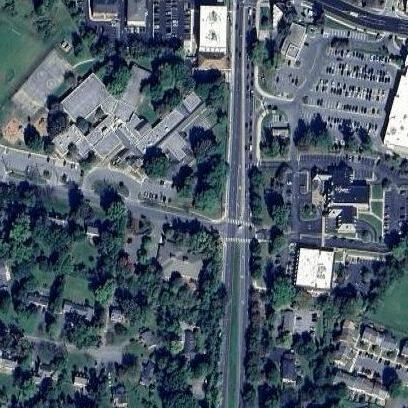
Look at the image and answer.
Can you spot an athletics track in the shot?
No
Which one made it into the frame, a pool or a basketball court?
basketball court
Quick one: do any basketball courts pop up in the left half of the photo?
Yes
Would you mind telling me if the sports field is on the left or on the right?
left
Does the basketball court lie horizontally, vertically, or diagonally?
diagonally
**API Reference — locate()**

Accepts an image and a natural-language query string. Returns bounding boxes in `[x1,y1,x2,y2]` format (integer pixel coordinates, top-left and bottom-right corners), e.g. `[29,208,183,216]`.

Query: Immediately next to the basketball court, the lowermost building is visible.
[54,74,213,172]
